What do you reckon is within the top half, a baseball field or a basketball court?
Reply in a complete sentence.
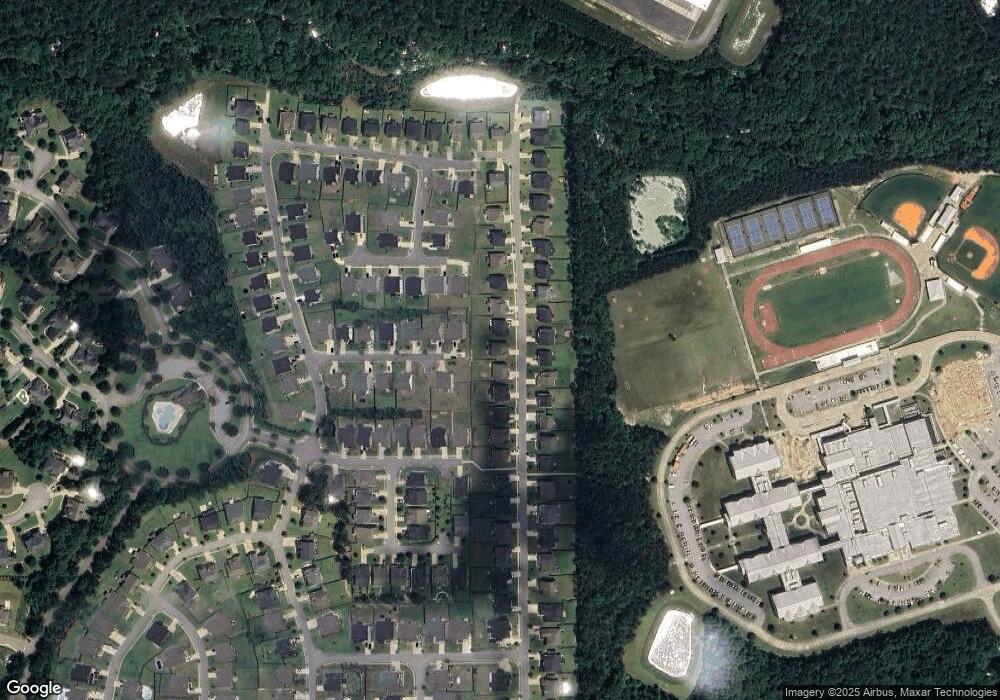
There is a baseball field within the top half.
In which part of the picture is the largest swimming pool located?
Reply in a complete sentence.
You can find the largest swimming pool in the left area of the picture.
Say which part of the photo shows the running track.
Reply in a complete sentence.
The running track is located in the right region of the scene.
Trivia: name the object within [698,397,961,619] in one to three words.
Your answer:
building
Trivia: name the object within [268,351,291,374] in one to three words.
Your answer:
house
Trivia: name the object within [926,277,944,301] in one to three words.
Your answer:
shed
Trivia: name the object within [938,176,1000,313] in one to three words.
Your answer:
baseball field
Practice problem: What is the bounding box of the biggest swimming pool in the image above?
[152,401,184,433]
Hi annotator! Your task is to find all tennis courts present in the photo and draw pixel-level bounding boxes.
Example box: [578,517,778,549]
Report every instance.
[745,218,764,246]
[764,212,783,240]
[727,225,746,253]
[798,201,817,229]
[781,207,800,235]
[816,196,835,225]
